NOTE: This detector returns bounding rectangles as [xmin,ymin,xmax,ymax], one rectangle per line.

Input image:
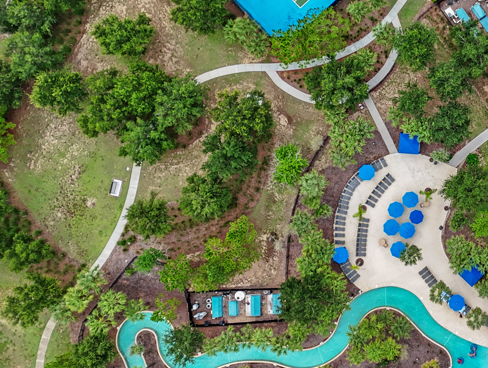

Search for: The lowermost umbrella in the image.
[448,293,465,311]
